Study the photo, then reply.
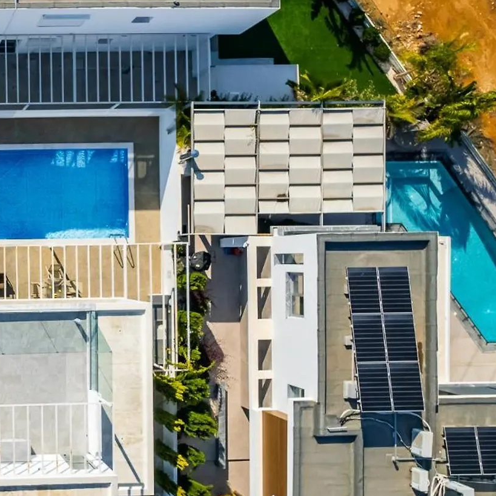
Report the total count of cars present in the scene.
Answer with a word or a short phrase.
none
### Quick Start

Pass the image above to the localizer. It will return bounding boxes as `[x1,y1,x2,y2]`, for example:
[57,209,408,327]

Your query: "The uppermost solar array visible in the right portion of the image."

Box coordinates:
[343,267,423,411]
